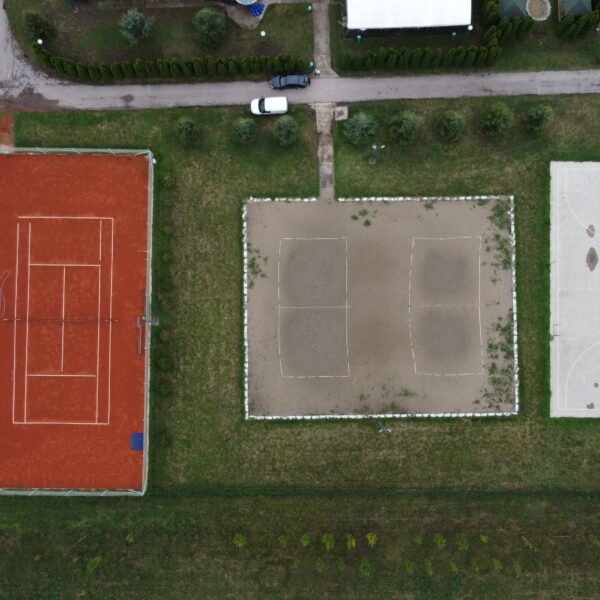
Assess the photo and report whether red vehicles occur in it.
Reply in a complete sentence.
No, there is no red vehicle in the image.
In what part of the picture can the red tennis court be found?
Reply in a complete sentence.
The red tennis court appears toward the left of the photo.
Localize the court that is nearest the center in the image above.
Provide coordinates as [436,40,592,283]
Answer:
[278,238,350,377]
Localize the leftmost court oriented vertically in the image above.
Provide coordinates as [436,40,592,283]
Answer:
[0,153,152,490]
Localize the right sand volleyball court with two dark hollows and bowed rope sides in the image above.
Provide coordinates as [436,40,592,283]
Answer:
[409,236,483,376]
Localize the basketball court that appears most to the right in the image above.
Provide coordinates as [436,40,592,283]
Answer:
[550,162,600,418]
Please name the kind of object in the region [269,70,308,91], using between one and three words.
car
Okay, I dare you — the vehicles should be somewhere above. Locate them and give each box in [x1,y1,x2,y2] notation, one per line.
[269,70,308,91]
[252,94,288,115]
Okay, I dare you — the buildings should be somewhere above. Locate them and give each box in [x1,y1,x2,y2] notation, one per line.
[495,0,527,23]
[557,0,592,23]
[342,0,472,38]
